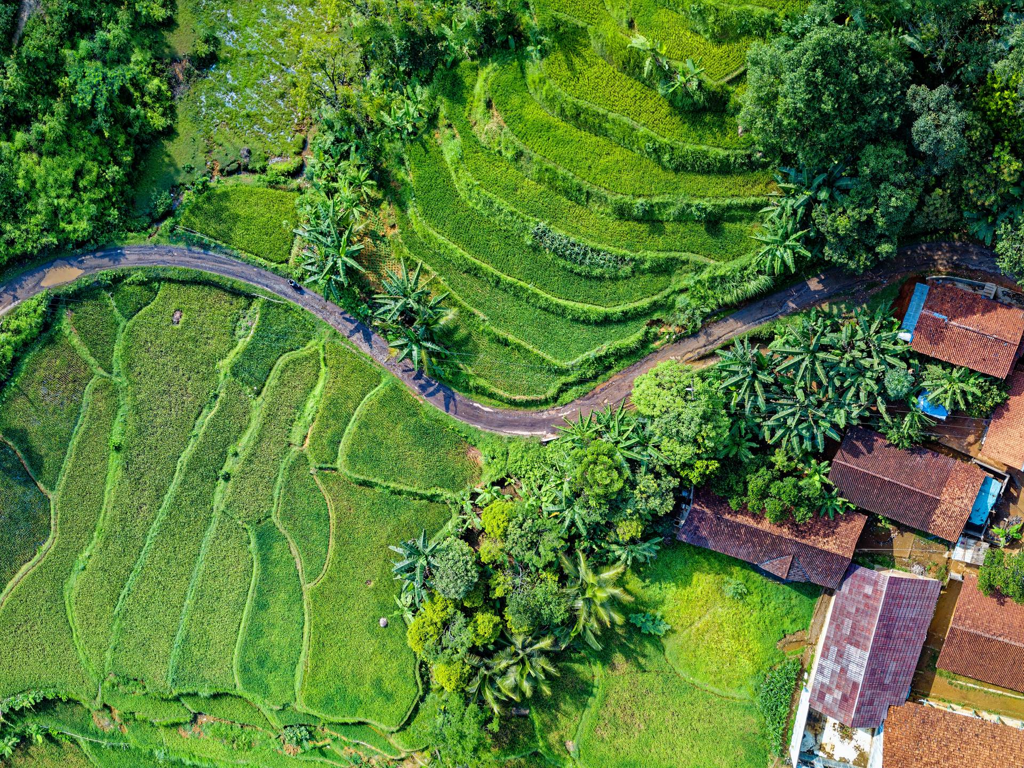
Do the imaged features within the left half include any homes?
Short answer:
No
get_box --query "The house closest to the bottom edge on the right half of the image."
[880,699,1024,768]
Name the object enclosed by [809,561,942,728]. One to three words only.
house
